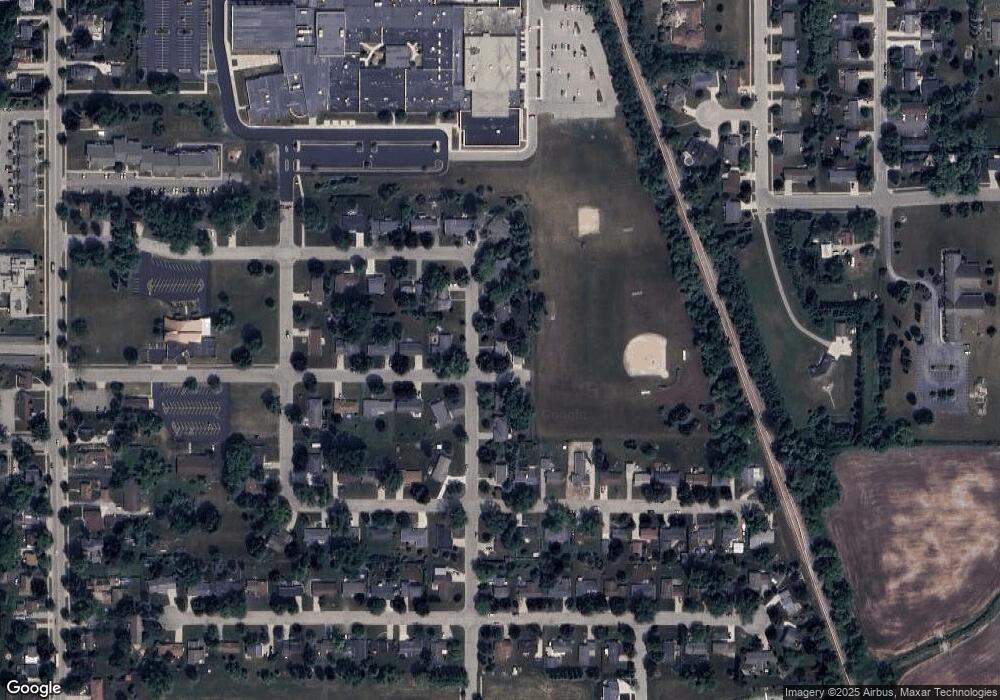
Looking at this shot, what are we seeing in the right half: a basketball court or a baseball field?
baseball field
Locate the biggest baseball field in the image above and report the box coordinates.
[624,333,679,387]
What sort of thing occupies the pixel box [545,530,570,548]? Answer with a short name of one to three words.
house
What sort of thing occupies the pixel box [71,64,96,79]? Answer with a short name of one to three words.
house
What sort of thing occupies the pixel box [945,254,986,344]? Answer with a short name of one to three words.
building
